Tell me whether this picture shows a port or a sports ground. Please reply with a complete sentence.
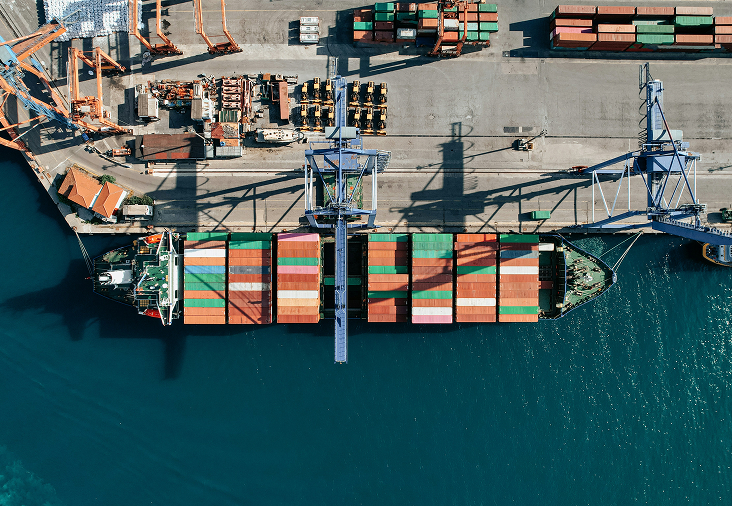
It's a port.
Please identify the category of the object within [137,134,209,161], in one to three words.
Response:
building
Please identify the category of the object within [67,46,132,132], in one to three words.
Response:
container crane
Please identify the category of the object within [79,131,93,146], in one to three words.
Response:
vehicle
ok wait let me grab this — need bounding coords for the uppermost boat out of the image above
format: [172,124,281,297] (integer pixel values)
[257,127,302,143]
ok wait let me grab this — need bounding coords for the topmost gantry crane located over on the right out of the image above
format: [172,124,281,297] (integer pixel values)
[426,0,468,56]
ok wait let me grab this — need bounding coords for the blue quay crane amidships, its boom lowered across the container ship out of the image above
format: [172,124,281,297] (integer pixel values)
[303,59,387,367]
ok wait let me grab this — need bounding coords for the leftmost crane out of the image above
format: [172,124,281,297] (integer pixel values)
[0,0,75,158]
